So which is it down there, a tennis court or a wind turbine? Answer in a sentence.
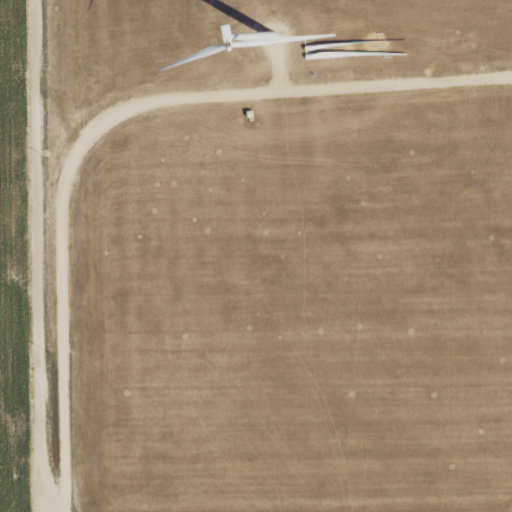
I can see a wind turbine in this picture.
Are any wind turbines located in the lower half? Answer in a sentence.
No, no wind turbine appears in the lower half.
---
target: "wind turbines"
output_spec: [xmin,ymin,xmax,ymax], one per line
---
[162,24,336,70]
